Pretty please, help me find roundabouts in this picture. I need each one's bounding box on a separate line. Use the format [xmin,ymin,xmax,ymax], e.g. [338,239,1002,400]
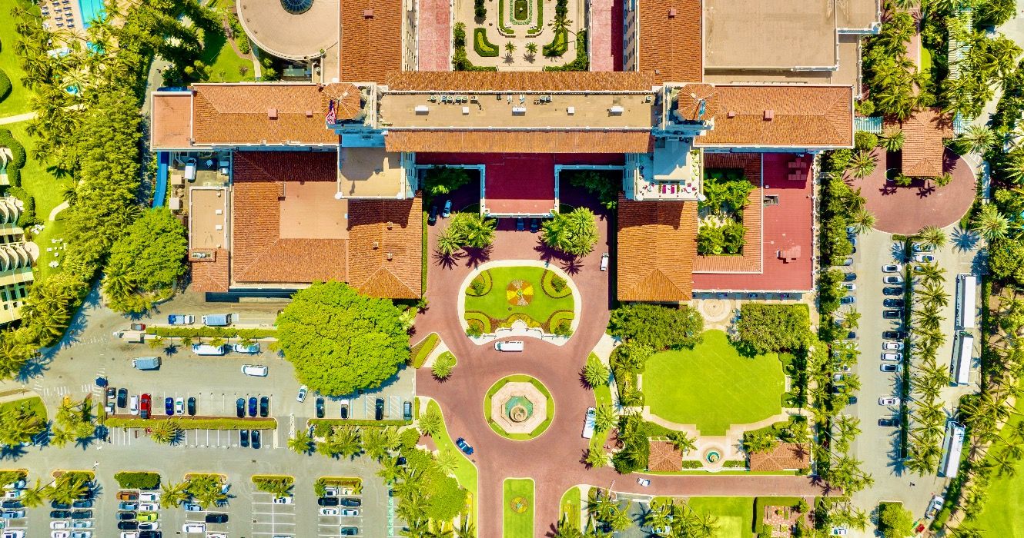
[484,373,555,442]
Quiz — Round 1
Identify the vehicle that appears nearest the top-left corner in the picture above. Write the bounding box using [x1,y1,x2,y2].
[185,156,201,184]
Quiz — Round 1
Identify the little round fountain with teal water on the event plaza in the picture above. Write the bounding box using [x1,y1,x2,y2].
[701,443,725,467]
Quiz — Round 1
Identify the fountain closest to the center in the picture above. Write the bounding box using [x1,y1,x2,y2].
[491,380,547,436]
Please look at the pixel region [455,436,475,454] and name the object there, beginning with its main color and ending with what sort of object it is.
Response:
blue car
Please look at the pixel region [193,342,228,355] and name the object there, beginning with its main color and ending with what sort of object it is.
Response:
white vehicle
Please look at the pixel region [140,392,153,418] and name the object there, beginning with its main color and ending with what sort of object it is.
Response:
red vehicle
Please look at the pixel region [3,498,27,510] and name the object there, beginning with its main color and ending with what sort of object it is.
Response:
blue vehicle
